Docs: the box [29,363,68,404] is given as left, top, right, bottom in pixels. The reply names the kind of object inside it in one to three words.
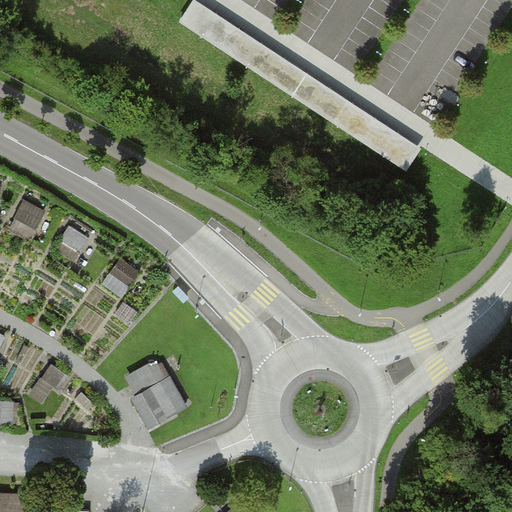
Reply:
shed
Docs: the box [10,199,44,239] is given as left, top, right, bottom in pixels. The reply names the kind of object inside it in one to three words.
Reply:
shed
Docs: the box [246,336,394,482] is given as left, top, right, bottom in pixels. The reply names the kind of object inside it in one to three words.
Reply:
roundabout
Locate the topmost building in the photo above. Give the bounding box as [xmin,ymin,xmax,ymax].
[180,0,421,170]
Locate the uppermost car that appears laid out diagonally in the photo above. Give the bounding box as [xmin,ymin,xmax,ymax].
[454,52,476,68]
